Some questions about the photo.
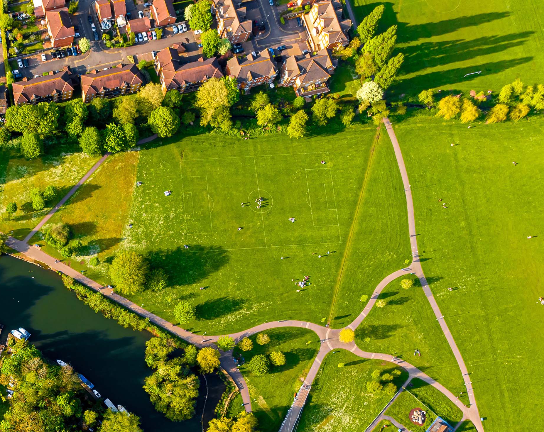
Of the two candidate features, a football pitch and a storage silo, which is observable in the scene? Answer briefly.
football pitch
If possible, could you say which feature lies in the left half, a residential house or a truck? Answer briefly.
residential house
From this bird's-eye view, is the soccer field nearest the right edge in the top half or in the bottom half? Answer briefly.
top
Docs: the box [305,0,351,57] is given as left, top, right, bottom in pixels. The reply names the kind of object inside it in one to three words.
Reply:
building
